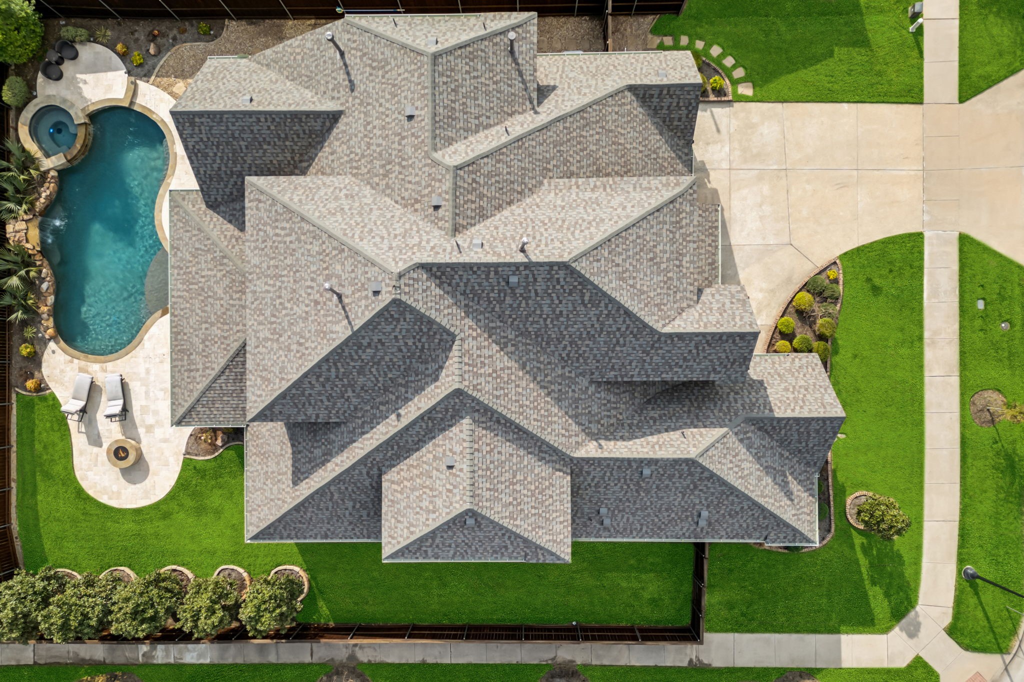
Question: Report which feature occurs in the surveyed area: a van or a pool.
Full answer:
I can see a pool in this picture.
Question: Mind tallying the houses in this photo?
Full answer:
There is 1 house in the image.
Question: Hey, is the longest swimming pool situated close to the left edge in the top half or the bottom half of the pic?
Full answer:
The longest swimming pool situated close to the left edge is in the top half of the image.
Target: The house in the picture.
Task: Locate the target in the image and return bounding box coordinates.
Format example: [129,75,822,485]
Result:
[168,10,846,566]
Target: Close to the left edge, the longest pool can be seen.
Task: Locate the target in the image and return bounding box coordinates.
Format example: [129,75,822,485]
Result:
[41,75,176,363]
